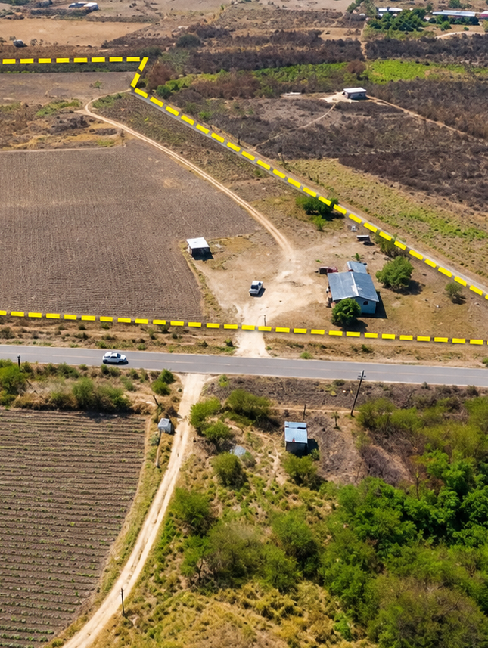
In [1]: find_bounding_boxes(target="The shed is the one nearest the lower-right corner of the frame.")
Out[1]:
[280,419,311,453]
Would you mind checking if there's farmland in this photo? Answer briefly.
Yes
